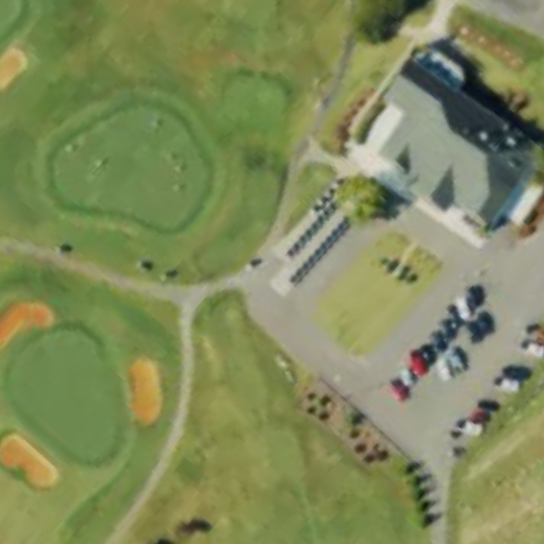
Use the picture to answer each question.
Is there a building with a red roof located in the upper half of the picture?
No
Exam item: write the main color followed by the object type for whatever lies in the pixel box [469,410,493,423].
red vehicle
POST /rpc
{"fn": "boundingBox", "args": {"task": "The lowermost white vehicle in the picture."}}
[458,420,483,434]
